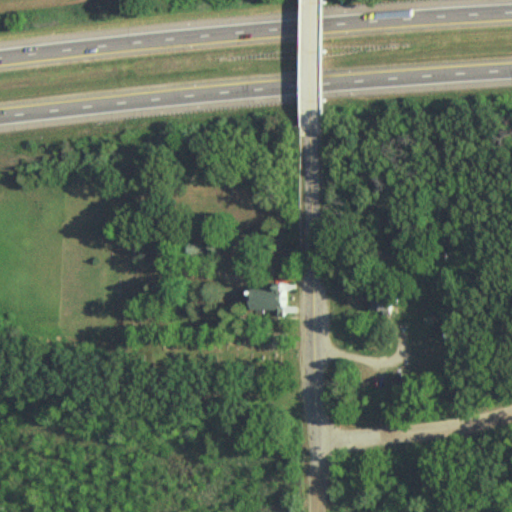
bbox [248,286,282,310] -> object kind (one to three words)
house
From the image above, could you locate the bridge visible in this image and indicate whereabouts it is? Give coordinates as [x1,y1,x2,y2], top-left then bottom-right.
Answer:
[298,0,325,134]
